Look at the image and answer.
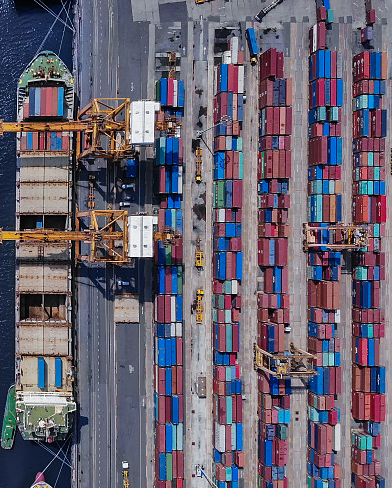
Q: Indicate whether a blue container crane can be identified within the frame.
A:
No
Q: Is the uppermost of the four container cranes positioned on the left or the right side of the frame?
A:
left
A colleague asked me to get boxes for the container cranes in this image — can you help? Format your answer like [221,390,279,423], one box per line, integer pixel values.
[0,205,182,264]
[0,98,182,169]
[257,344,321,377]
[305,223,372,251]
